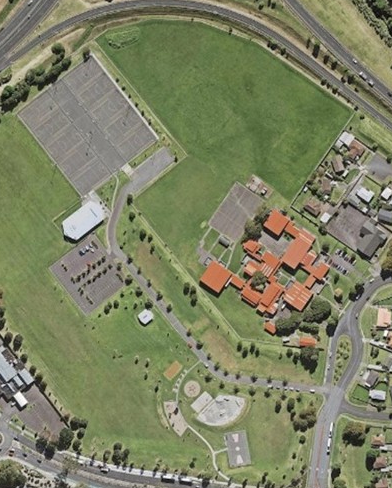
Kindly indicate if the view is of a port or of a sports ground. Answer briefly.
sports ground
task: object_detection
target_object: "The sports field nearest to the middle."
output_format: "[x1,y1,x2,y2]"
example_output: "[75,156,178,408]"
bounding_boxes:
[132,157,236,280]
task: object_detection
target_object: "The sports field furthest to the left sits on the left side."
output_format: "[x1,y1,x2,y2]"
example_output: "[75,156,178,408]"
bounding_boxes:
[0,118,165,463]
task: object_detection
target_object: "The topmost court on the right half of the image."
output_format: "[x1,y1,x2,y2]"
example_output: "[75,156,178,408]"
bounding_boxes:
[209,182,265,242]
